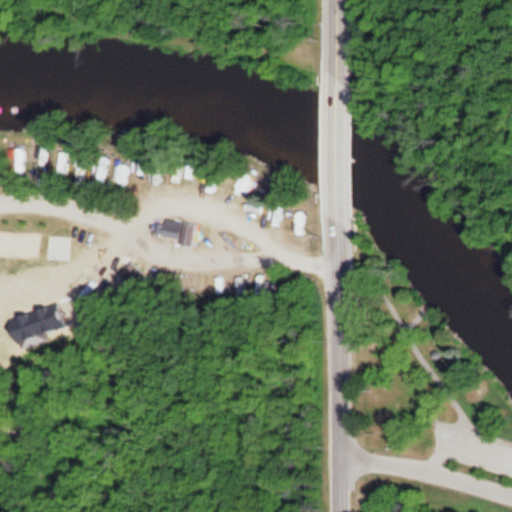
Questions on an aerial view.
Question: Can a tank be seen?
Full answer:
No, the picture doesn't show any tank.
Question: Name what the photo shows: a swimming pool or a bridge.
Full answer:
There is a bridge in the scene.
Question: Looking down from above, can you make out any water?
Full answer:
Yes, water shows up in the scene.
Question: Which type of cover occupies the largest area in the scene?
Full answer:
The bulk of the photo consists of trees.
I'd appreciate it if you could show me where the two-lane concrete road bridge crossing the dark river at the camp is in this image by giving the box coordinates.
[315,76,357,233]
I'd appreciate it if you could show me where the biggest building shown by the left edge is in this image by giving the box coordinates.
[7,306,70,353]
